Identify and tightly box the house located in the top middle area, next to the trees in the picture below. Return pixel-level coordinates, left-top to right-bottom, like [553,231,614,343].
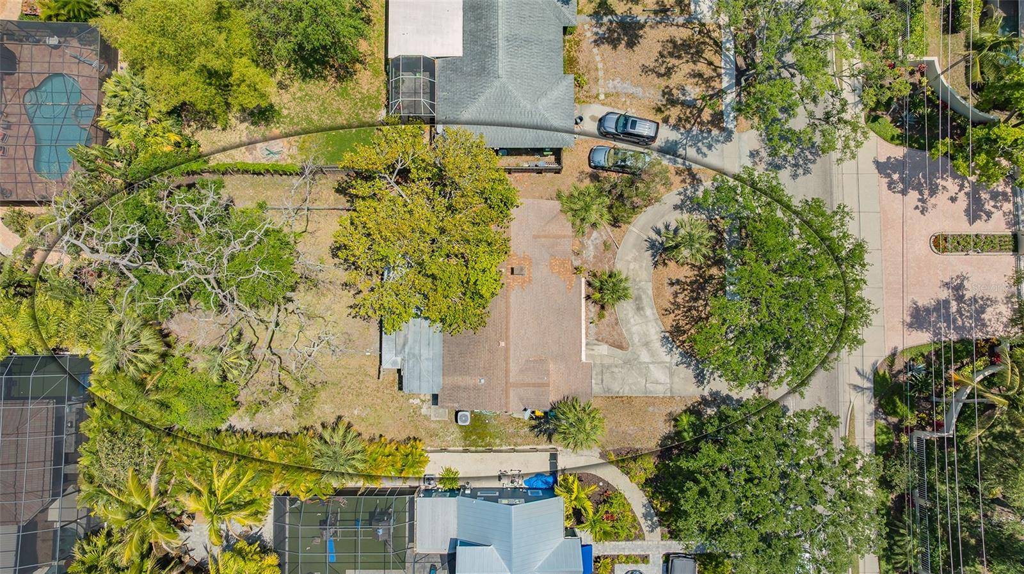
[435,0,578,148]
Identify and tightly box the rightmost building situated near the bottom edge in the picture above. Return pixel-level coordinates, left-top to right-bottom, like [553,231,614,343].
[414,487,584,574]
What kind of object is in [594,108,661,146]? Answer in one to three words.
car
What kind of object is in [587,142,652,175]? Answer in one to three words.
car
